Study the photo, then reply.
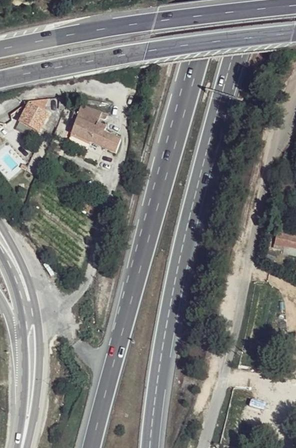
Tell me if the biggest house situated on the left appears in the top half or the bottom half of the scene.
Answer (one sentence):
The biggest house situated on the left sits in the top half of the picture.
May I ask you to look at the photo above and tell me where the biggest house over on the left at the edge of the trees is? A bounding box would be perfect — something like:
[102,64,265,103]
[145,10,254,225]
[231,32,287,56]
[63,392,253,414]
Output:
[70,106,121,154]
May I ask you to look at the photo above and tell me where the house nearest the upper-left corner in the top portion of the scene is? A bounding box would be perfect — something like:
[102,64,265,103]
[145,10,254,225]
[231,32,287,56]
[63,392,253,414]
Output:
[16,100,52,134]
